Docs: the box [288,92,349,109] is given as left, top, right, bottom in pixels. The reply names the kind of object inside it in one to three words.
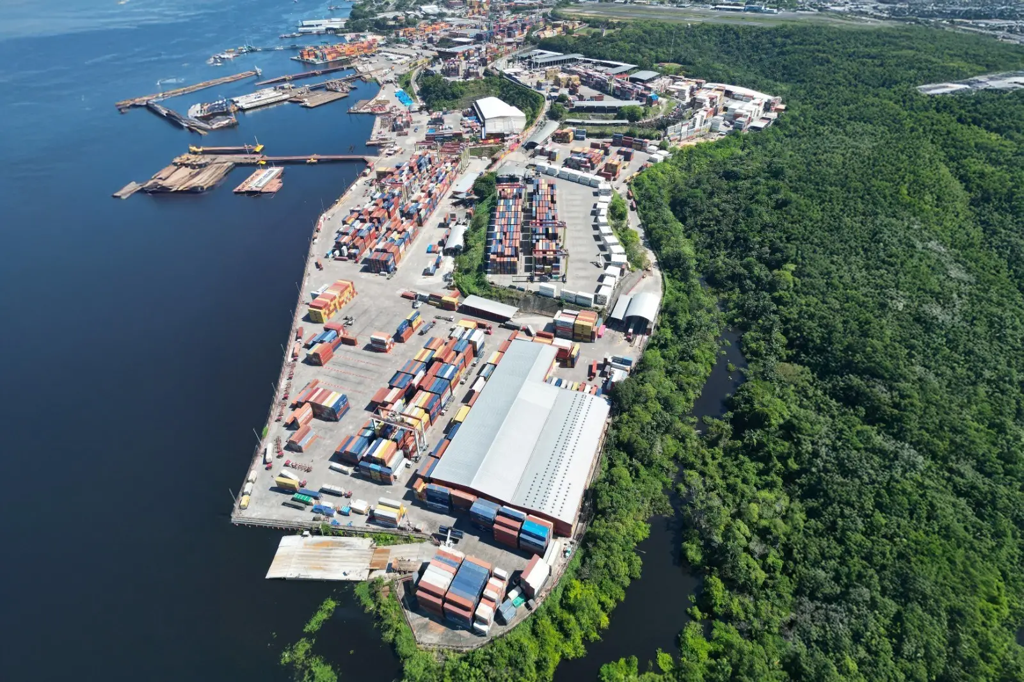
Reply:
ship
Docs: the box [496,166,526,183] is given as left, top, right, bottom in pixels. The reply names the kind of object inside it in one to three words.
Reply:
shed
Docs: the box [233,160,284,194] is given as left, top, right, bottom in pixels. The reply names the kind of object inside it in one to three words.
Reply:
ship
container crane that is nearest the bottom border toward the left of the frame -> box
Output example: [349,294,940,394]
[363,406,428,462]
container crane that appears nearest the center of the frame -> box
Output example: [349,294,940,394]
[529,250,573,283]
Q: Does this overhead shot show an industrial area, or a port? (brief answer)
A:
port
